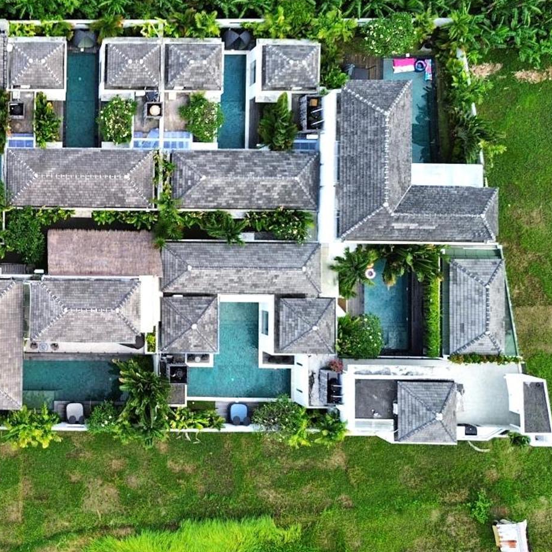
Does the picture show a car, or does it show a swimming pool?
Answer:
swimming pool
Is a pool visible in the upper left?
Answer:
Yes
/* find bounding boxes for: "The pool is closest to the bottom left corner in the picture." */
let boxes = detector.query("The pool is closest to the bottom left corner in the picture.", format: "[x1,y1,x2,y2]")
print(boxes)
[25,359,121,410]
